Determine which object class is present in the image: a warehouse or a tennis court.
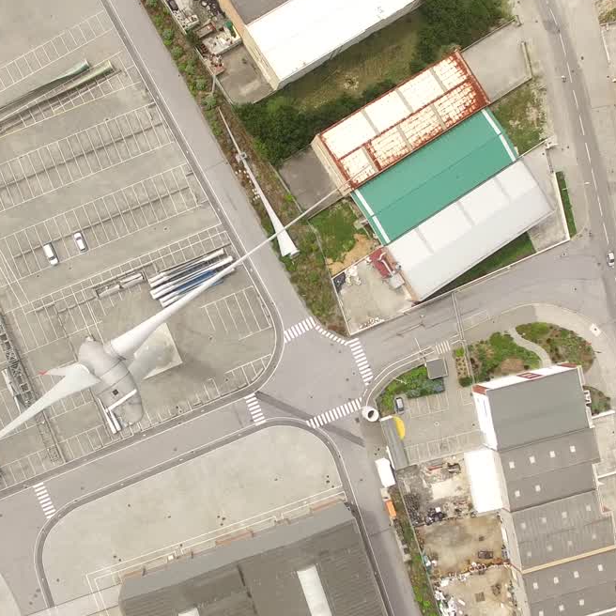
warehouse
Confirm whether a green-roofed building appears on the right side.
Yes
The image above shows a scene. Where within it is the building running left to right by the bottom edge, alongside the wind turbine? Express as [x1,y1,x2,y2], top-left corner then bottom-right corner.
[120,505,385,616]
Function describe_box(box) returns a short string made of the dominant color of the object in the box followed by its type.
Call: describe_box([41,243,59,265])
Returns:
white car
